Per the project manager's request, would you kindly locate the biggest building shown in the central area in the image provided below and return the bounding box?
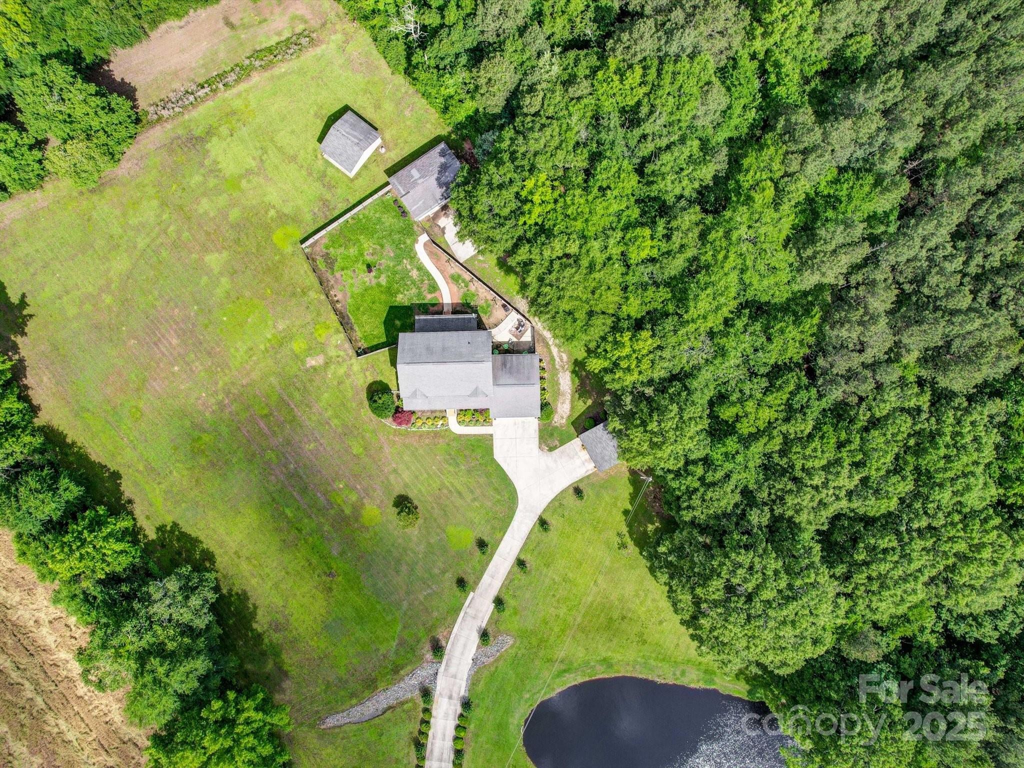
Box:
[396,312,541,419]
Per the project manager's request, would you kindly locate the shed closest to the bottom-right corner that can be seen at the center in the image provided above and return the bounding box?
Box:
[579,413,636,474]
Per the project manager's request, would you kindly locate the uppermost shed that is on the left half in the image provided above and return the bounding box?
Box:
[320,112,384,179]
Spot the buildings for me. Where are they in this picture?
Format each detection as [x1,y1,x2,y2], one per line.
[390,144,467,222]
[579,413,636,474]
[396,312,541,419]
[320,112,384,179]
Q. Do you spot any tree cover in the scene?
Yes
